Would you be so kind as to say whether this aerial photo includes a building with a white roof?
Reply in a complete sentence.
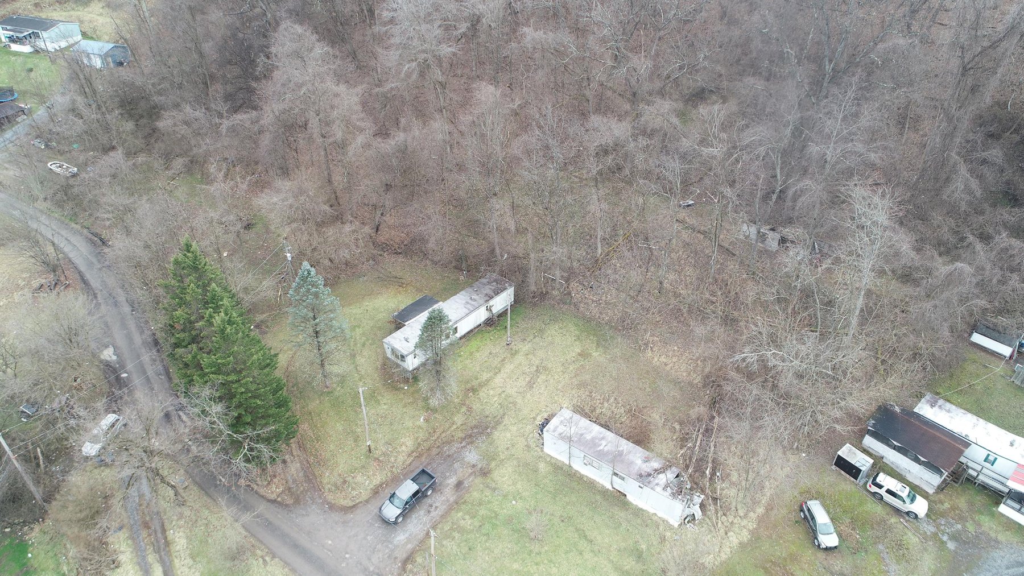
Yes, this view includes a building with a white roof.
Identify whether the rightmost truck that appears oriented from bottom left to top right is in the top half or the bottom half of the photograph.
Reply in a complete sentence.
You can find the rightmost truck that appears oriented from bottom left to top right in the bottom half.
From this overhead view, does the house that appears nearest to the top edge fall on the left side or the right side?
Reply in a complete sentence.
You can find the house that appears nearest to the top edge on the left side of the picture.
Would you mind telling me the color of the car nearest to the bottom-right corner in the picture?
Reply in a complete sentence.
In this view, the car nearest to the bottom-right corner is white.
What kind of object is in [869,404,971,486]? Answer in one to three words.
shed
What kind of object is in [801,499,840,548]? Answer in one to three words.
car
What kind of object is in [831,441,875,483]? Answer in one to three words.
shed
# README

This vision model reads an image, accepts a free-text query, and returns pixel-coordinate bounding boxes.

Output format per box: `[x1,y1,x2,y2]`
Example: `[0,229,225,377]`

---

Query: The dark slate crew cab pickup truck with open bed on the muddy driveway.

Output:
[379,470,437,522]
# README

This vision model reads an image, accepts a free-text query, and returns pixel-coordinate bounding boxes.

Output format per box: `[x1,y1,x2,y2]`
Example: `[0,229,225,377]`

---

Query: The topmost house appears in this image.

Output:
[2,4,89,51]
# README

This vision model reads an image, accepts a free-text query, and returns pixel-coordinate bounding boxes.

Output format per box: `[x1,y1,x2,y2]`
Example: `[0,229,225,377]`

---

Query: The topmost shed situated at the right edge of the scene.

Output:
[971,319,1024,358]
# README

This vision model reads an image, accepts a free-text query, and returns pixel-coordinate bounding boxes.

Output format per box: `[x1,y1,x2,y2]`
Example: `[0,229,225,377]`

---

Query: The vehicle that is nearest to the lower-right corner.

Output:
[869,477,929,520]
